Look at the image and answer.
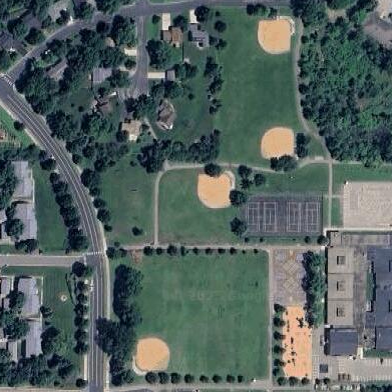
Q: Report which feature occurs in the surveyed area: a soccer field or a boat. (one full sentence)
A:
I can see a soccer field in this picture.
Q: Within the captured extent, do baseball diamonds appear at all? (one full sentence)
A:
Yes, a baseball diamond is visible in the scene.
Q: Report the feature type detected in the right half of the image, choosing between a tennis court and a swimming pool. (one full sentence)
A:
Visible in the right half of the image is a tennis court.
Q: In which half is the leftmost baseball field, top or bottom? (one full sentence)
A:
It is in the bottom half that the leftmost baseball field appears.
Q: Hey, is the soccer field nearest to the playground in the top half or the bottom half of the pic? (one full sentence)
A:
Seen from above, the soccer field nearest to the playground lies in the bottom half of the view.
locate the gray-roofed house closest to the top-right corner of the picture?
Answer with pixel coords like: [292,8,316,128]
[189,25,210,50]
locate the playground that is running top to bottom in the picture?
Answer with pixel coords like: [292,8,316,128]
[283,307,313,377]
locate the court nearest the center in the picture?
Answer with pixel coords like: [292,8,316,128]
[242,190,324,237]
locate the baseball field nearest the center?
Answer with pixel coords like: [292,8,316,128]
[197,171,235,208]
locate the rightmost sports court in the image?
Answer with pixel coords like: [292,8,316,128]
[343,182,392,227]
